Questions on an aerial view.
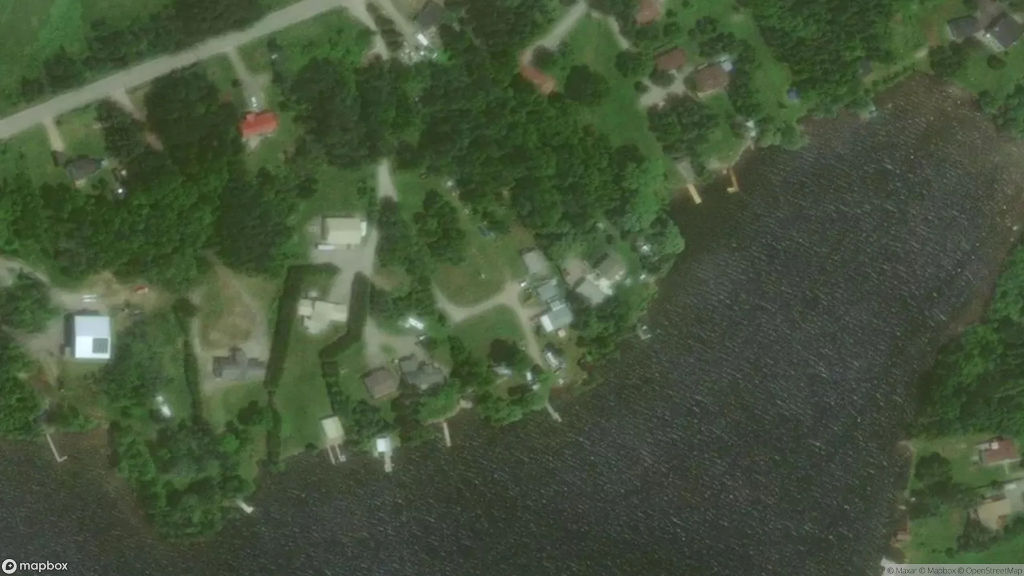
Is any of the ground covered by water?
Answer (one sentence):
Yes, the picture does contain water.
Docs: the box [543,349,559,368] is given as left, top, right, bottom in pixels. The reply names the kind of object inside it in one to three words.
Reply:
vehicle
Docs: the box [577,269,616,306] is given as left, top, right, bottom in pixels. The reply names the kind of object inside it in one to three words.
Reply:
building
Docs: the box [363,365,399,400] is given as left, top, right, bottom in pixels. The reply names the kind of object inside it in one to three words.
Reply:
house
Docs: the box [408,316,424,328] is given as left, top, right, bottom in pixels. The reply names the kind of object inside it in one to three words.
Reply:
vehicle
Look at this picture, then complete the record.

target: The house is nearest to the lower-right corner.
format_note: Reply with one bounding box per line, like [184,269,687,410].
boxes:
[976,494,1013,530]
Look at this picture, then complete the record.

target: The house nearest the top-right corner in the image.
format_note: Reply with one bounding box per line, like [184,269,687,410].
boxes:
[982,11,1024,53]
